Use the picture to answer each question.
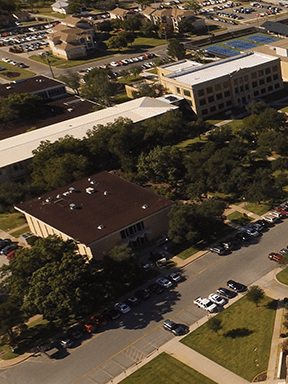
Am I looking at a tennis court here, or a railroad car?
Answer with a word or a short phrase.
tennis court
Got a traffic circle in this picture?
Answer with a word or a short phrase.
No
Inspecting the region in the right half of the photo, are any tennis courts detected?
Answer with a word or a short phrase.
Yes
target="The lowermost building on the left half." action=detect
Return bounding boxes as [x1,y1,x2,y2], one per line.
[14,172,173,257]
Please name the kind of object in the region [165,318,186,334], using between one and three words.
car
